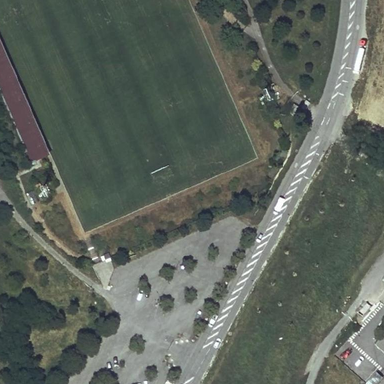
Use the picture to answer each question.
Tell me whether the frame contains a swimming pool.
No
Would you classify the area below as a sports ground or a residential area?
sports ground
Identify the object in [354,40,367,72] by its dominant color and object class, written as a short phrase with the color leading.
white vehicle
